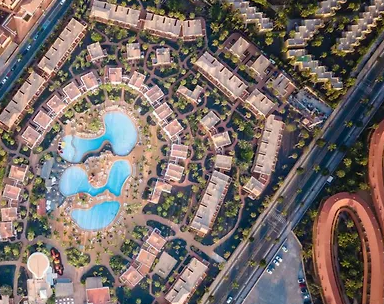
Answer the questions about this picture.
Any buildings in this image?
Yes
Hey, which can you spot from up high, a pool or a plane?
pool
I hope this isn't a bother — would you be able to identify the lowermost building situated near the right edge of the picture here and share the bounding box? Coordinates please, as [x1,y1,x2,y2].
[311,193,384,304]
